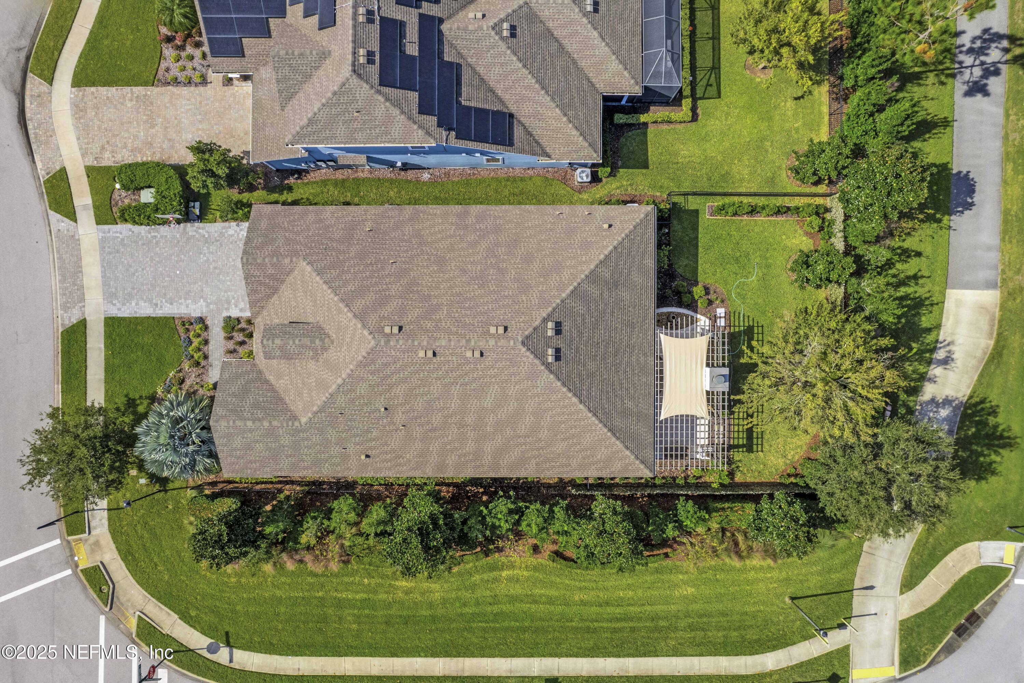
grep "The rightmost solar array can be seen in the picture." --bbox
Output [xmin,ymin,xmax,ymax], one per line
[380,0,509,145]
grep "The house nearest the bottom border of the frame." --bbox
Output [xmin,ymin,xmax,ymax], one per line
[209,205,658,478]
